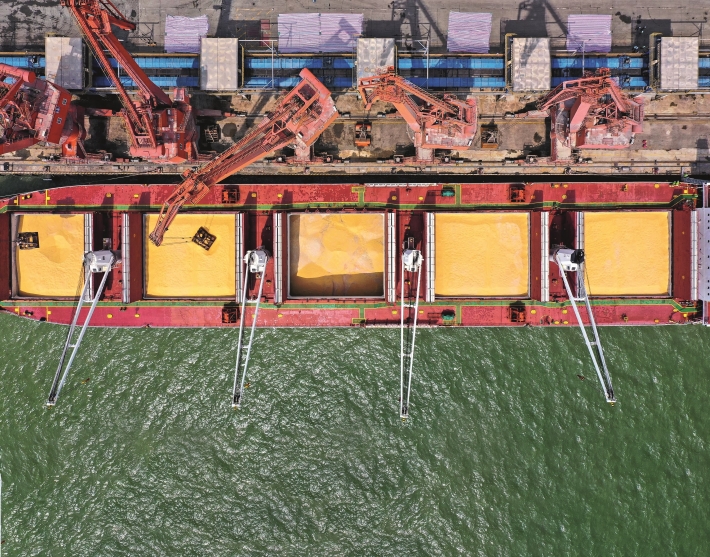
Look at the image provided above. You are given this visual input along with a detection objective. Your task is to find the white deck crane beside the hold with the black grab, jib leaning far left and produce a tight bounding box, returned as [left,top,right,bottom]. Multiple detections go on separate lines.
[44,243,122,407]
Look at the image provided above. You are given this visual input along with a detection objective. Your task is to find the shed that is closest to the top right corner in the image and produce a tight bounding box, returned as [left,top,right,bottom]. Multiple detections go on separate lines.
[620,35,710,100]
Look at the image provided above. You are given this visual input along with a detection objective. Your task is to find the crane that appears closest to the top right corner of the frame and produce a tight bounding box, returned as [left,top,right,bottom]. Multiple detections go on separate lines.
[491,71,646,166]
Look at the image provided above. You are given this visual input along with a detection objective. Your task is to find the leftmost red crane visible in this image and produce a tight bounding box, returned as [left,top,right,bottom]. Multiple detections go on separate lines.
[0,69,115,166]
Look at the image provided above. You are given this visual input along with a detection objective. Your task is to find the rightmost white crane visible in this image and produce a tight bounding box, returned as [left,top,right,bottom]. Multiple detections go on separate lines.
[549,243,618,406]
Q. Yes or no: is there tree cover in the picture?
No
